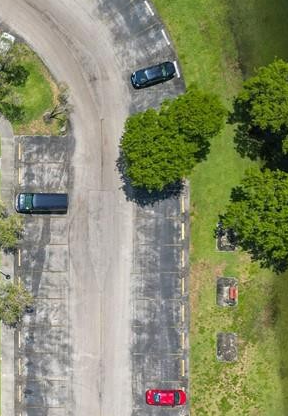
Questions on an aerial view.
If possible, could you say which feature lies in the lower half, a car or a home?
car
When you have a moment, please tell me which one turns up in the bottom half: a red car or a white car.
red car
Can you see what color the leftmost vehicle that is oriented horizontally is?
blue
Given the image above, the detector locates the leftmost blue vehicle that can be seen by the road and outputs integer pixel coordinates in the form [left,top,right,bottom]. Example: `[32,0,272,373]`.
[15,191,70,214]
